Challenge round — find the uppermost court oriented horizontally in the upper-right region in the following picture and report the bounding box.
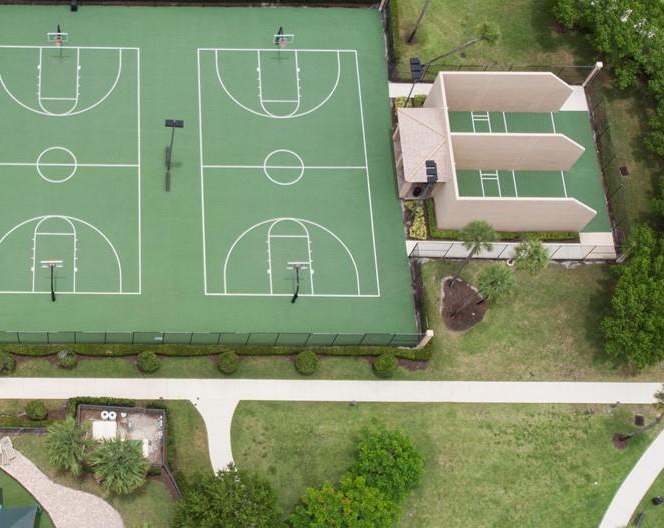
[448,111,602,171]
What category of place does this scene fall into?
sports ground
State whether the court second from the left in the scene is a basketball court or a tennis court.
basketball court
